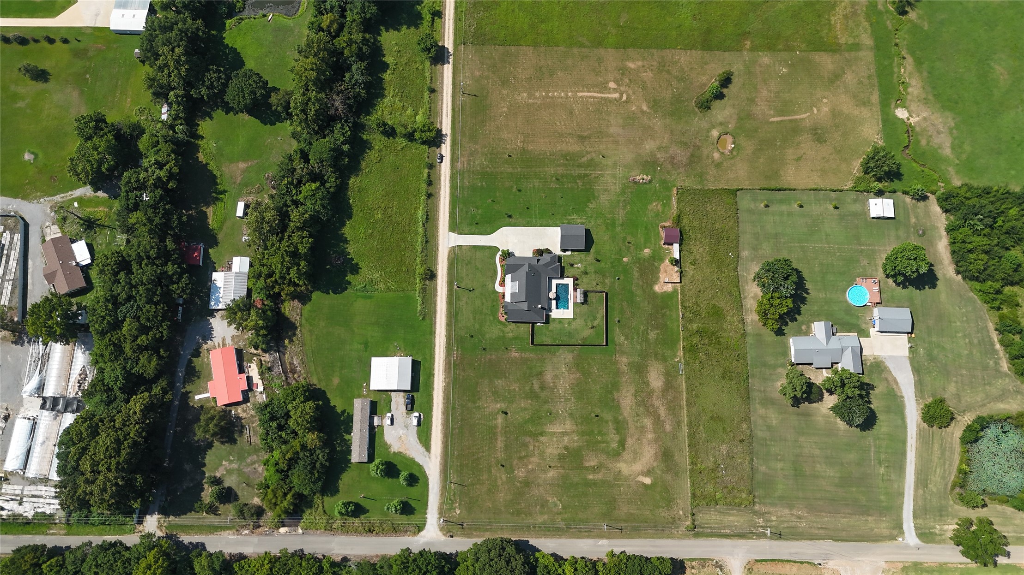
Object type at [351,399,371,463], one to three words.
house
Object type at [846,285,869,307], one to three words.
swimming pool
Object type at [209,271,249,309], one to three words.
barn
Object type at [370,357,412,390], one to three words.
building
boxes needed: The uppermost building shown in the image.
[109,0,152,35]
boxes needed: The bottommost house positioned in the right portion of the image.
[790,321,862,373]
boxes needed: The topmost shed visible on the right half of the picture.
[866,198,895,219]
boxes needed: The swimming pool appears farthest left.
[556,284,569,310]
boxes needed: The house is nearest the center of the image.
[504,253,560,322]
